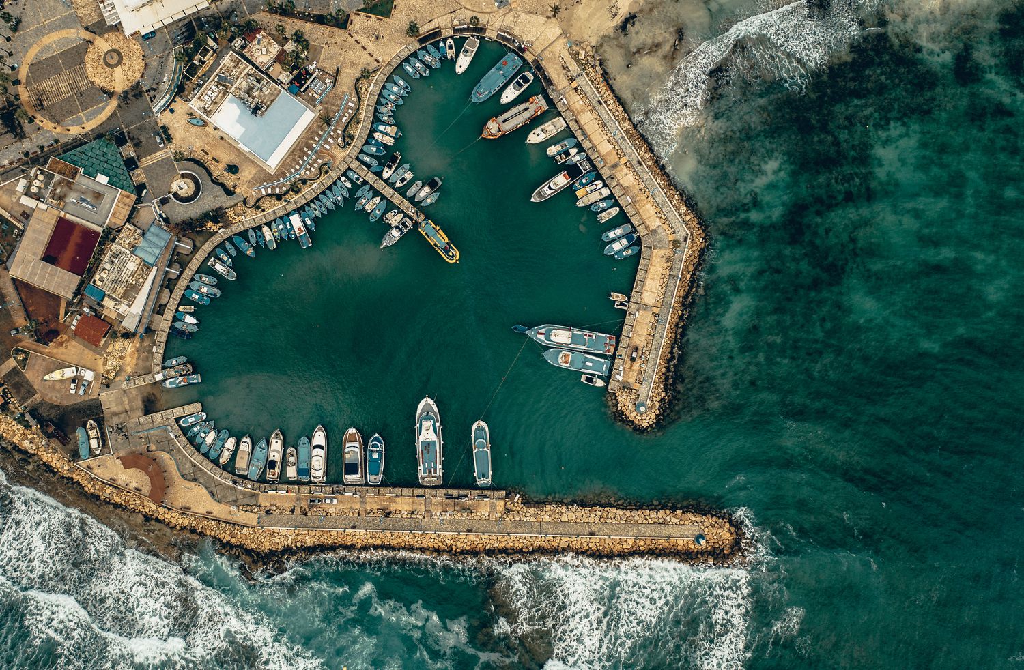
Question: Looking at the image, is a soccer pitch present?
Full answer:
No, the picture doesn't show any soccer pitch.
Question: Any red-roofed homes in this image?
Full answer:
Yes, there's a red-roofed home here.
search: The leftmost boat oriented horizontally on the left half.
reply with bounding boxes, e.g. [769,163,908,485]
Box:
[43,365,79,381]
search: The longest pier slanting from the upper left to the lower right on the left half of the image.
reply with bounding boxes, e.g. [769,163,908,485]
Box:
[346,157,426,224]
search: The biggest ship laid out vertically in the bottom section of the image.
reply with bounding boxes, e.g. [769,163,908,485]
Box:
[415,397,444,486]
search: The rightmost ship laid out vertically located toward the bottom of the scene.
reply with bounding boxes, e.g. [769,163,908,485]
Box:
[471,421,493,487]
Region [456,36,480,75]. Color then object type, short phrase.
white boat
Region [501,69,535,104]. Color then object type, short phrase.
white boat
